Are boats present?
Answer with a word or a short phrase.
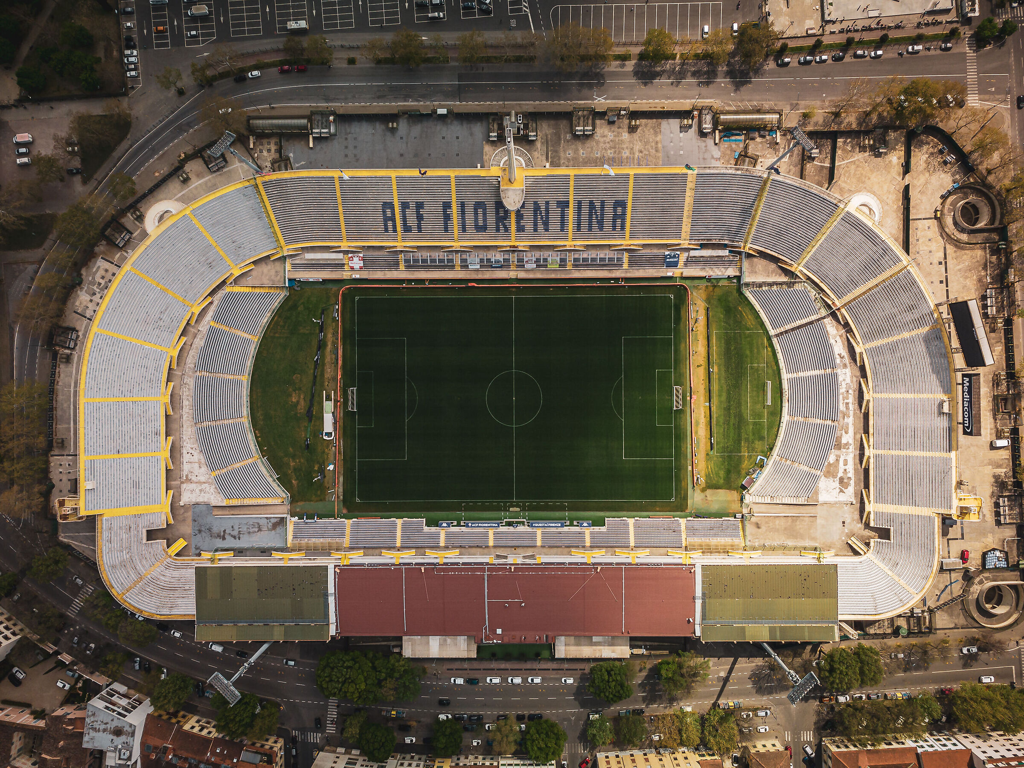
No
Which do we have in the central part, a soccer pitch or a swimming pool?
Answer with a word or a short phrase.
soccer pitch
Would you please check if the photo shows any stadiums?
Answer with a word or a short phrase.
Yes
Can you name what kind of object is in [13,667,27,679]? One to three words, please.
vehicle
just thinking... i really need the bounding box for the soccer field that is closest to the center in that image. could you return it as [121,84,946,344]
[341,286,688,517]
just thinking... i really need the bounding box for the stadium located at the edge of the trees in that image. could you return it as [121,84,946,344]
[54,146,984,659]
